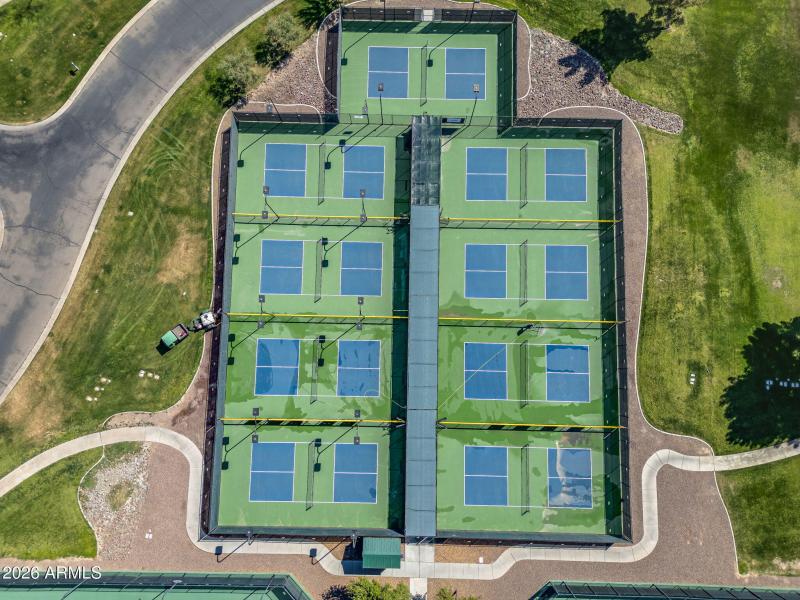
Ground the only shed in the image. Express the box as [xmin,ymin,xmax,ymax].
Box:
[362,537,402,570]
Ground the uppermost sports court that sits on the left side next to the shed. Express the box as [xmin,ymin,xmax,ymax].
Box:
[221,418,406,530]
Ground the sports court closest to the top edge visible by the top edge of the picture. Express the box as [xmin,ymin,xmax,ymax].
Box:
[340,20,512,127]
